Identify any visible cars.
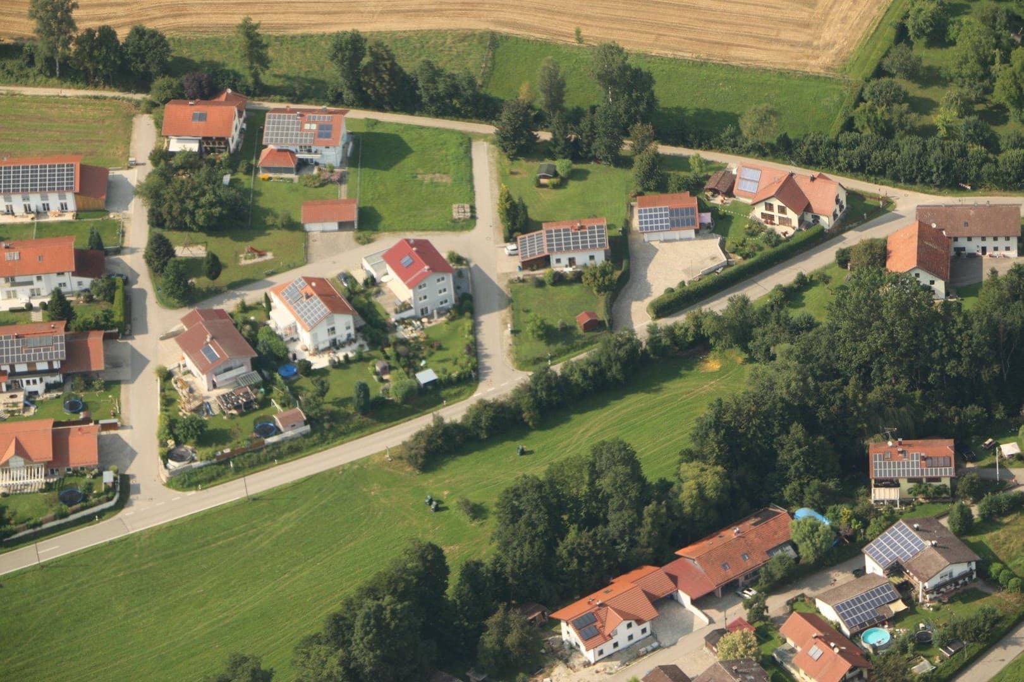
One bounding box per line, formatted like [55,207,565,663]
[977,436,1000,451]
[846,566,871,580]
[735,584,757,601]
[501,244,520,256]
[334,271,354,288]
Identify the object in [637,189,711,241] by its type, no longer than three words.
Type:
building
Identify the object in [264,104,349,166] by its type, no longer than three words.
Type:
house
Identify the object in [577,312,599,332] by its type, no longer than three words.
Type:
shed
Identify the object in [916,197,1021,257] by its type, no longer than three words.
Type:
house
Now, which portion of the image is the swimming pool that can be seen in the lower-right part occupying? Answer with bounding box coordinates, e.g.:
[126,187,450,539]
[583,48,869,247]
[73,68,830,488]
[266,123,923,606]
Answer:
[861,626,890,651]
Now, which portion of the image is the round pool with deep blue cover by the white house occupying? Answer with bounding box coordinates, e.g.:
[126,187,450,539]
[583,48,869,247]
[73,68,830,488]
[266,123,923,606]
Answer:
[277,366,297,383]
